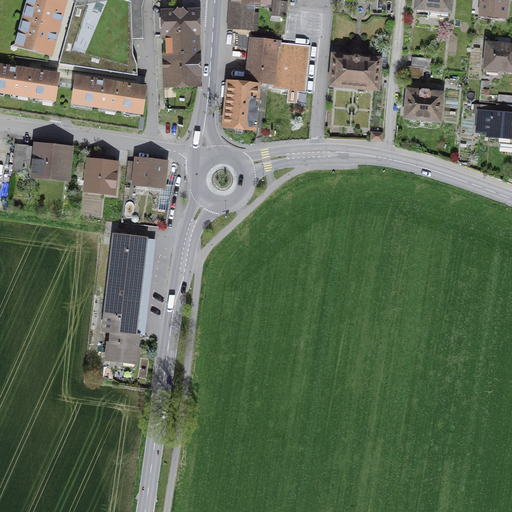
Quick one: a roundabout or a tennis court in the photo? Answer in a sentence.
The one in the frame is a roundabout.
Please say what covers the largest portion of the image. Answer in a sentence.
The largest share of the image is taken up by grass.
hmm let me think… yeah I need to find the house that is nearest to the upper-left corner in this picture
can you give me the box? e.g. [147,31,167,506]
[14,0,69,57]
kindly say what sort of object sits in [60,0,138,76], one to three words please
building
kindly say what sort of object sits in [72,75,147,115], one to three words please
house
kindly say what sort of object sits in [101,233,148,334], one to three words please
barn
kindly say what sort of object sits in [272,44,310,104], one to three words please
building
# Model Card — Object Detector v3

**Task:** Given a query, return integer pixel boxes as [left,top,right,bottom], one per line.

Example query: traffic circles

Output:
[174,144,257,214]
